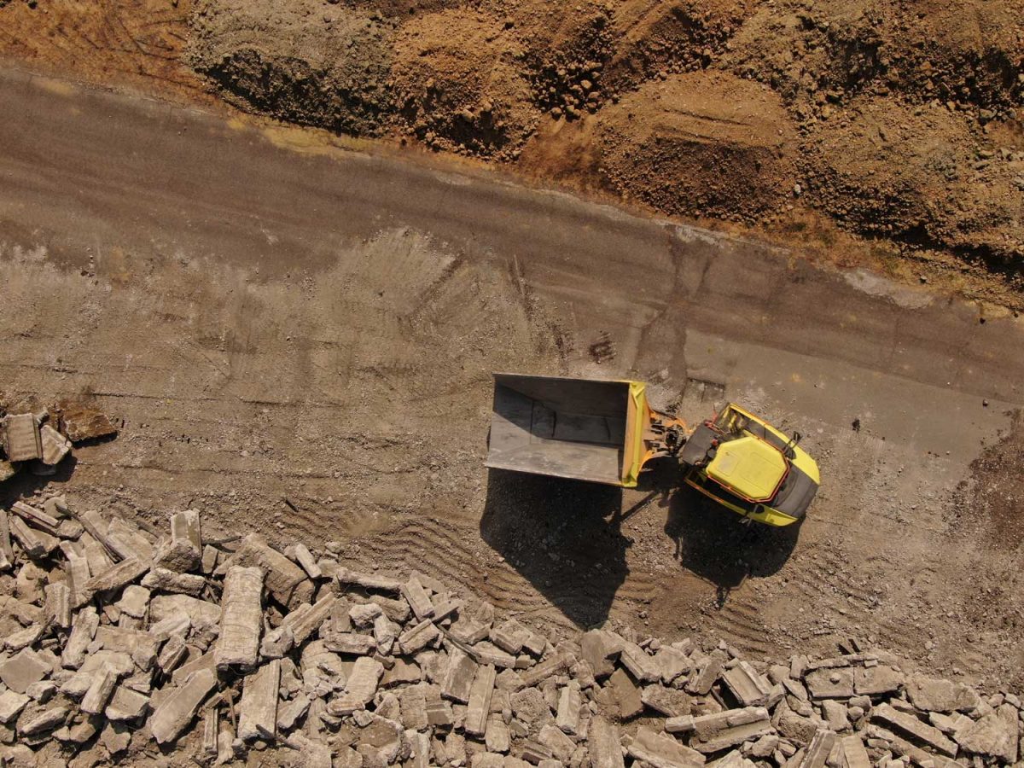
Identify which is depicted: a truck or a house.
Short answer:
truck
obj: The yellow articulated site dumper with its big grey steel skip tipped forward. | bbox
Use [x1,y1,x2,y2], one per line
[485,374,818,528]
